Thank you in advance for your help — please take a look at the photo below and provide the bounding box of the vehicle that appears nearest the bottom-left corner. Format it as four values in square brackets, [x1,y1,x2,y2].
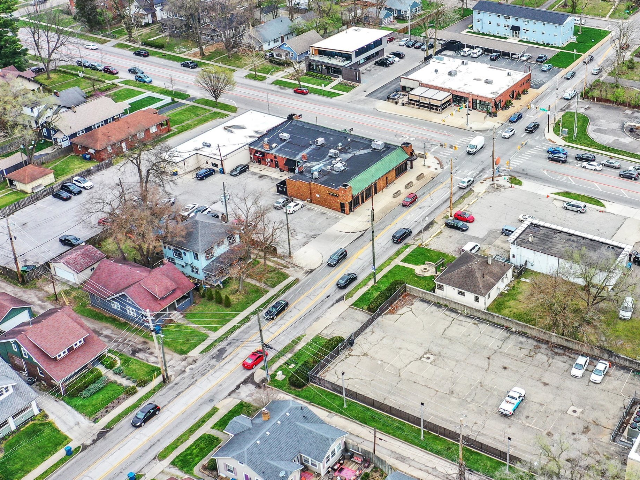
[130,402,161,429]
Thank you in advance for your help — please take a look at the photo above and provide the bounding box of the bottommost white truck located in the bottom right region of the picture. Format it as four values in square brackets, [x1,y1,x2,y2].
[498,387,525,418]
